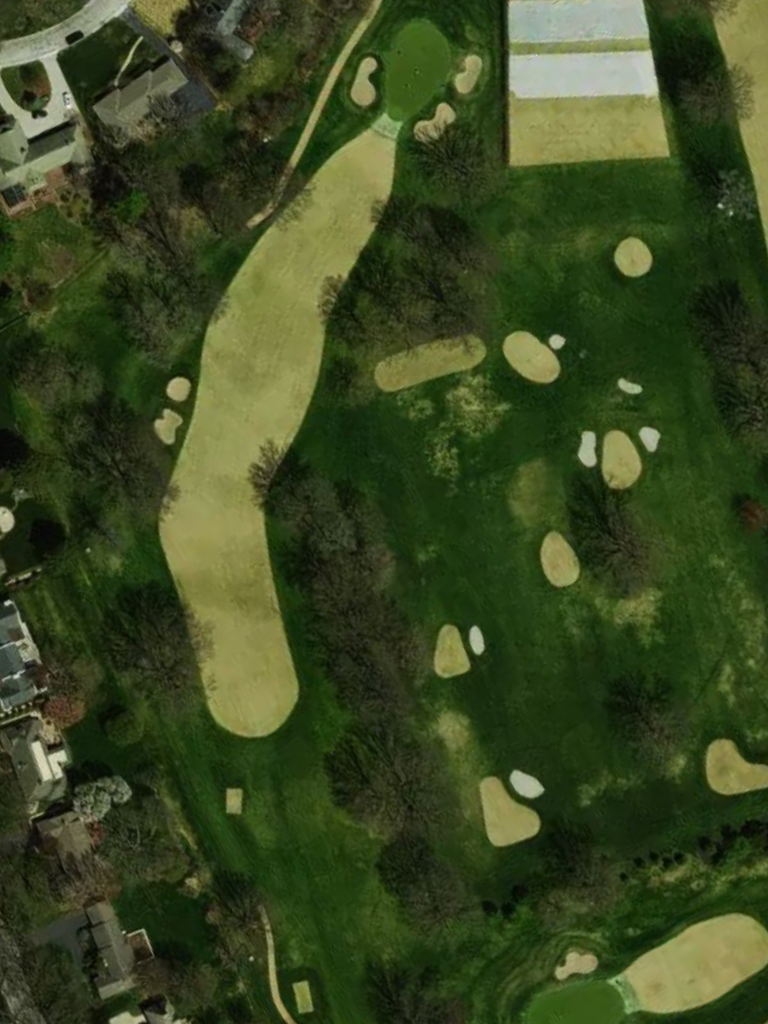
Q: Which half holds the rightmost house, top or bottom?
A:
top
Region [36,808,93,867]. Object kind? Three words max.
house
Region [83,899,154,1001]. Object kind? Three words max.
house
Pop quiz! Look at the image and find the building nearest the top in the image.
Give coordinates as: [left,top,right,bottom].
[197,0,256,61]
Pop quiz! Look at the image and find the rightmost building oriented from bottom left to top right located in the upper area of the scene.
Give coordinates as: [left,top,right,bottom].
[89,54,188,139]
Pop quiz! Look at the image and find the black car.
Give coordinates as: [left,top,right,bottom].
[66,30,84,44]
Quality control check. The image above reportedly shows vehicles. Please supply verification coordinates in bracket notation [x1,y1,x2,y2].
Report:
[66,30,84,44]
[63,92,72,109]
